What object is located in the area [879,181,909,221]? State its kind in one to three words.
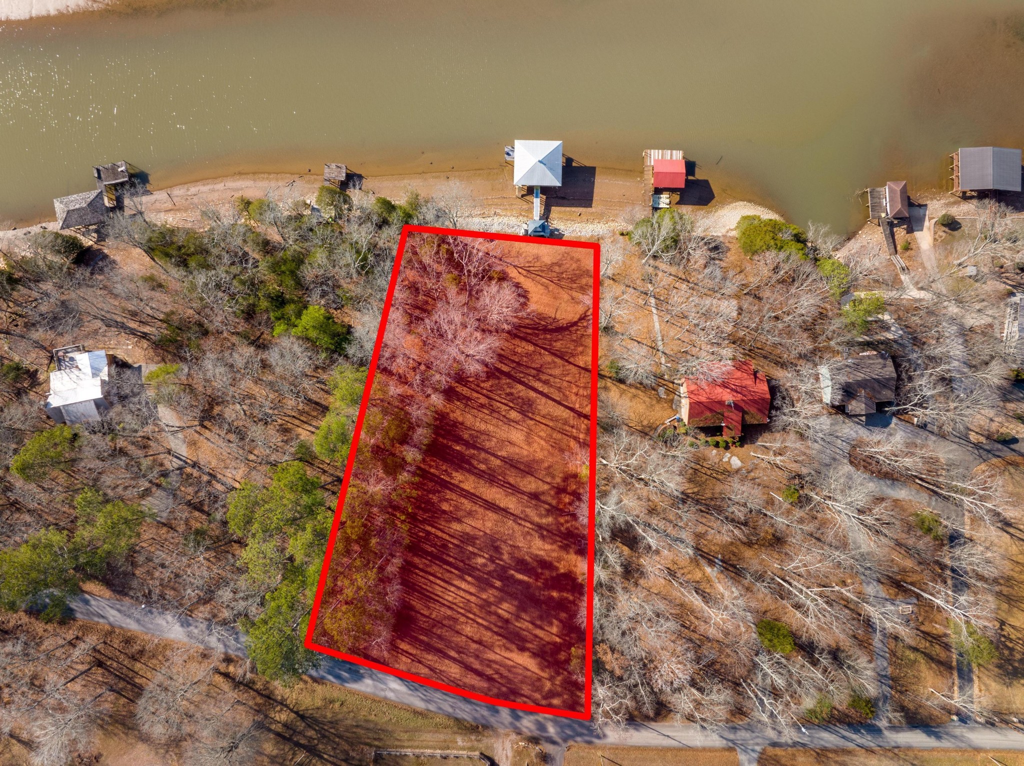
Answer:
building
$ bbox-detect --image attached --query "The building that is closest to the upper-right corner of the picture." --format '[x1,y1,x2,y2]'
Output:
[945,147,1021,196]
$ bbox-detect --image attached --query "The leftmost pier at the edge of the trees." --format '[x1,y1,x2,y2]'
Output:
[89,158,136,209]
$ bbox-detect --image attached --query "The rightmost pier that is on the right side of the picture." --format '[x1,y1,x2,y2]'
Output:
[863,187,897,258]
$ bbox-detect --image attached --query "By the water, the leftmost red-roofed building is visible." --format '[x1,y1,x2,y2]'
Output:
[652,159,686,191]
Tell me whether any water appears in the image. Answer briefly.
Yes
